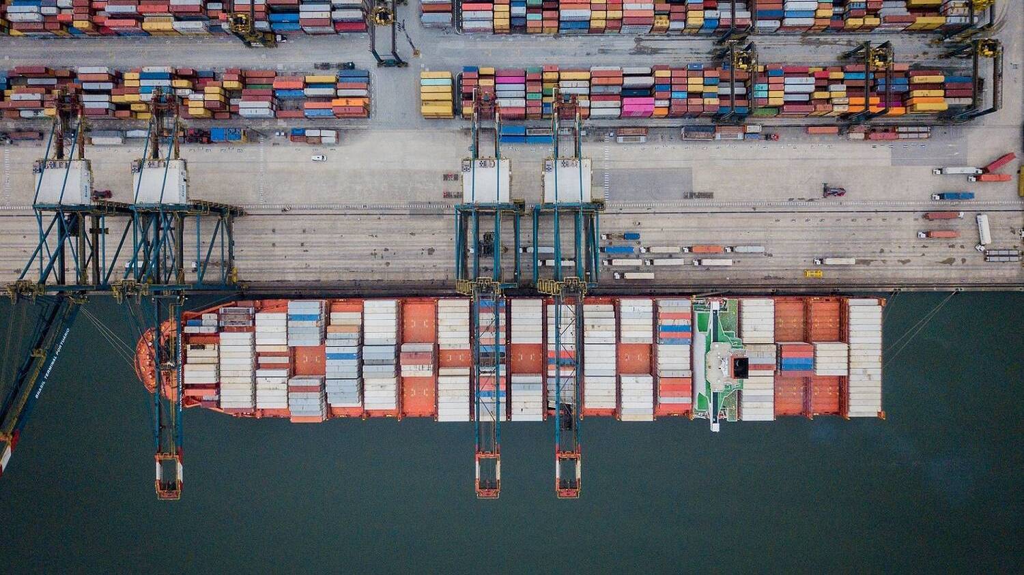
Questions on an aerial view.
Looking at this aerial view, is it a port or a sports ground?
port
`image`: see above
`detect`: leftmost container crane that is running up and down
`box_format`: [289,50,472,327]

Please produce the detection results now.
[0,82,150,457]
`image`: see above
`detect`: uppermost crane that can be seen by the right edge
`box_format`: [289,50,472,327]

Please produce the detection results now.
[943,0,995,41]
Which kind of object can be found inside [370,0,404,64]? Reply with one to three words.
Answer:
crane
